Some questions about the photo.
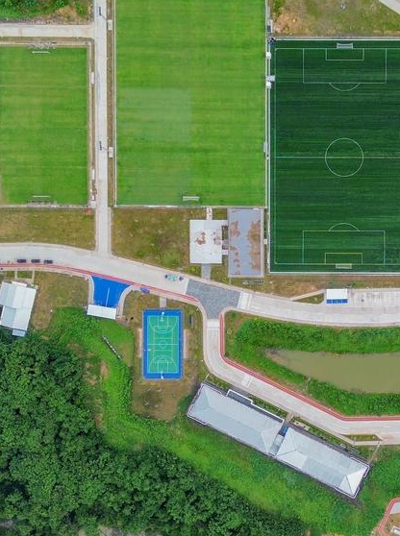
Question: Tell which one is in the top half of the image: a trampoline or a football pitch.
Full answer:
The feature located in the top half of the image is a football pitch.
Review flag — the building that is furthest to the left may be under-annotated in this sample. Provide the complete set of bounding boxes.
[0,281,38,337]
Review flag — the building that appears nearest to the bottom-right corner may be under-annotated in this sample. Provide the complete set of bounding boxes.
[276,426,371,500]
